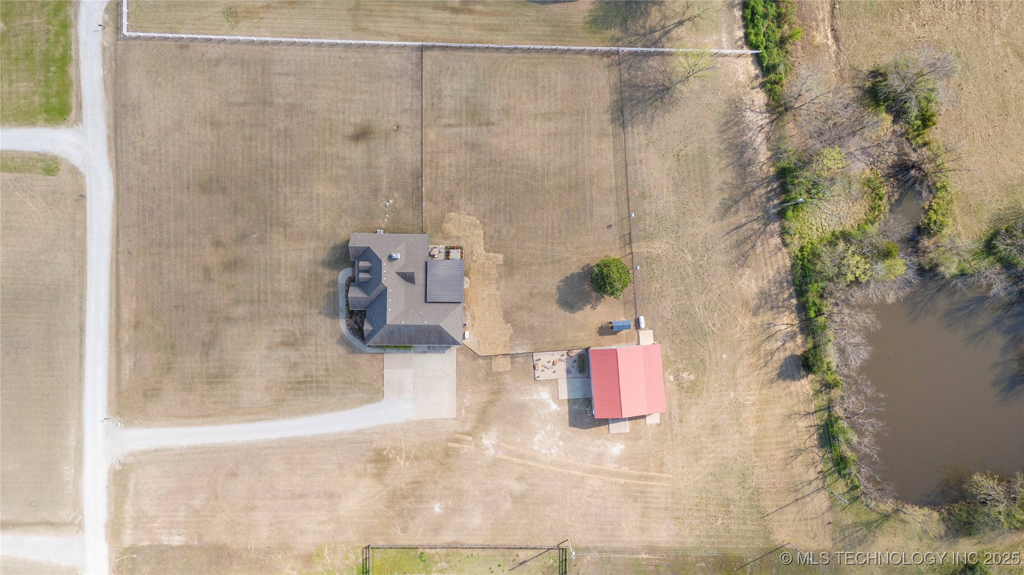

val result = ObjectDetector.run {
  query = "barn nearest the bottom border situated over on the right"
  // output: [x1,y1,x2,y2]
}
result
[589,344,665,419]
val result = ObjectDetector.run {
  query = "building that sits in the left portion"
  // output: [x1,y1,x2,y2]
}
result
[348,233,465,346]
